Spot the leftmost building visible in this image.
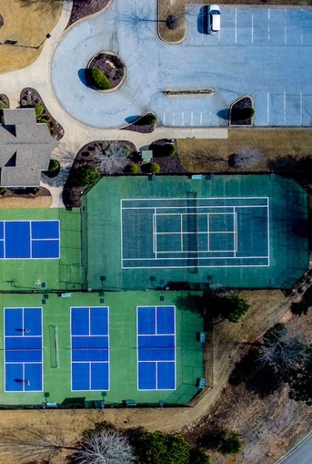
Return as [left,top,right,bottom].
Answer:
[0,108,60,189]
